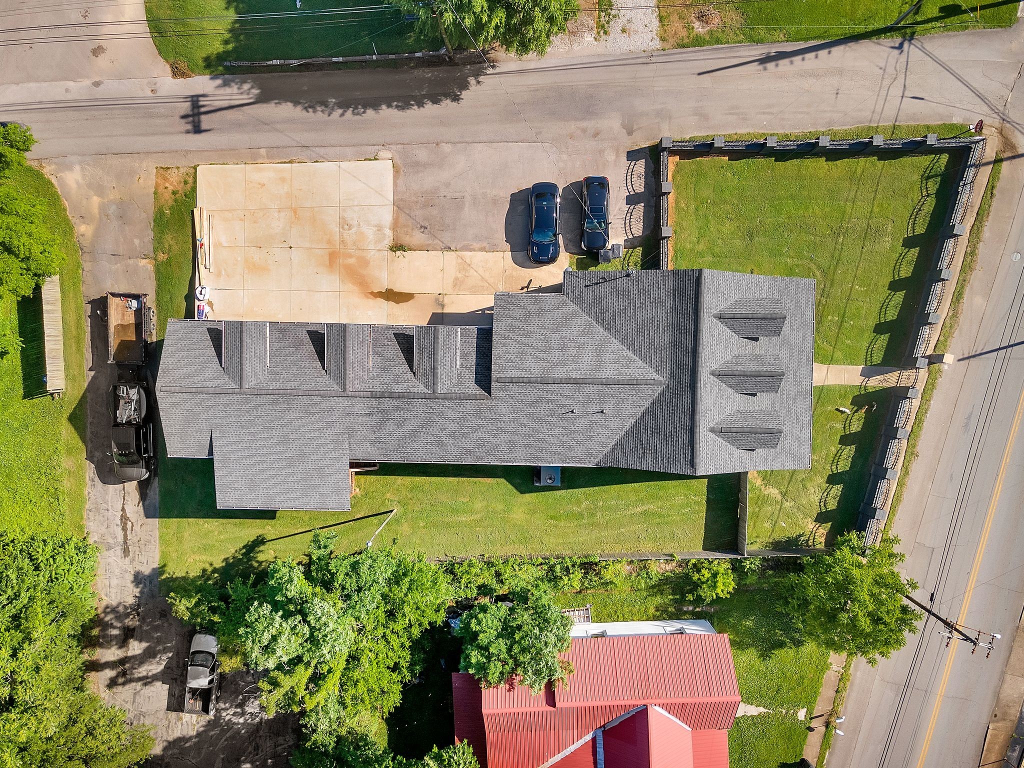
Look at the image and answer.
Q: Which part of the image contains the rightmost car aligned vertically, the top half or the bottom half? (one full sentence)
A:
Seen from above, the rightmost car aligned vertically lies in the top half of the view.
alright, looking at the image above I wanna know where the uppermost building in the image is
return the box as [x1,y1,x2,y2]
[156,268,818,513]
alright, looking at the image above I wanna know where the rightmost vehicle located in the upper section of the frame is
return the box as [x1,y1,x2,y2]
[578,176,613,253]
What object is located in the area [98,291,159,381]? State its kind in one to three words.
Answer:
trailer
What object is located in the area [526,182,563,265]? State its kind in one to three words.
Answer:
car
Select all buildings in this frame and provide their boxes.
[451,620,742,768]
[156,268,818,513]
